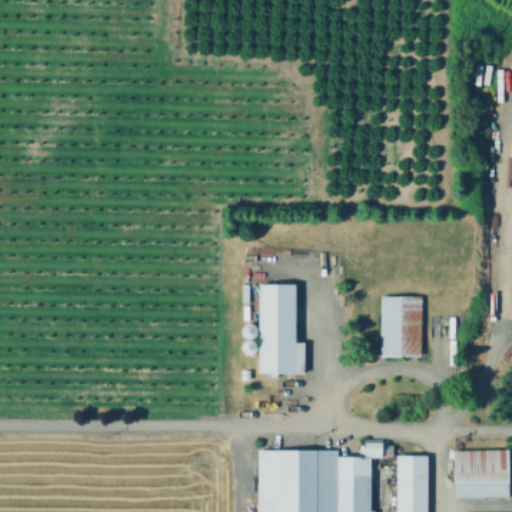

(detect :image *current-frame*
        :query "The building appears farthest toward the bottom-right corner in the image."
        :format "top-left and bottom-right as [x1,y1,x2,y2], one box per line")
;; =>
[455,450,510,498]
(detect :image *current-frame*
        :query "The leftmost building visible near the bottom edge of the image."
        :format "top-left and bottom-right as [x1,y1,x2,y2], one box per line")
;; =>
[259,450,338,512]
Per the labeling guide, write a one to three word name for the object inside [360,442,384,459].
shed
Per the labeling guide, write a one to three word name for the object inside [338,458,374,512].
shed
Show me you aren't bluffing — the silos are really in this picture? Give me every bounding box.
[242,324,258,340]
[242,340,258,356]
